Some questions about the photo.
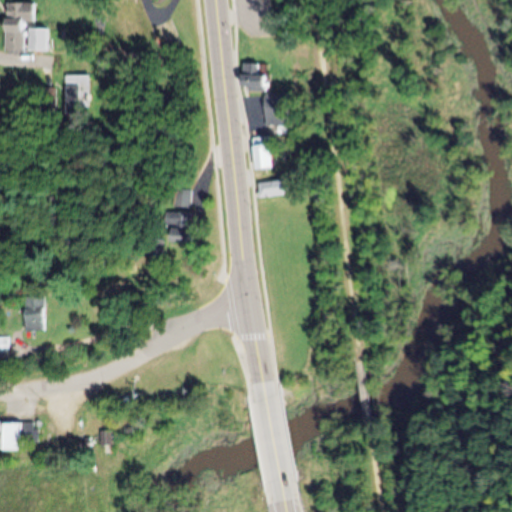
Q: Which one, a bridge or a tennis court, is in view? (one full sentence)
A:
I can see a bridge in this picture.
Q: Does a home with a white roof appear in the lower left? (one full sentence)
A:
Yes, you'll find a home with a white roof in the lower left.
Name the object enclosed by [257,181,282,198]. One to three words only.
house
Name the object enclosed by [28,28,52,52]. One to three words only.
building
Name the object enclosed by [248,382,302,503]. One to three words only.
bridge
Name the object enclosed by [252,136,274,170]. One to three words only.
house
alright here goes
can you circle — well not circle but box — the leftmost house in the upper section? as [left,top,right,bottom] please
[4,2,36,54]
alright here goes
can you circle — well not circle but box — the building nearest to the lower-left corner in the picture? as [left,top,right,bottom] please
[0,422,40,451]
